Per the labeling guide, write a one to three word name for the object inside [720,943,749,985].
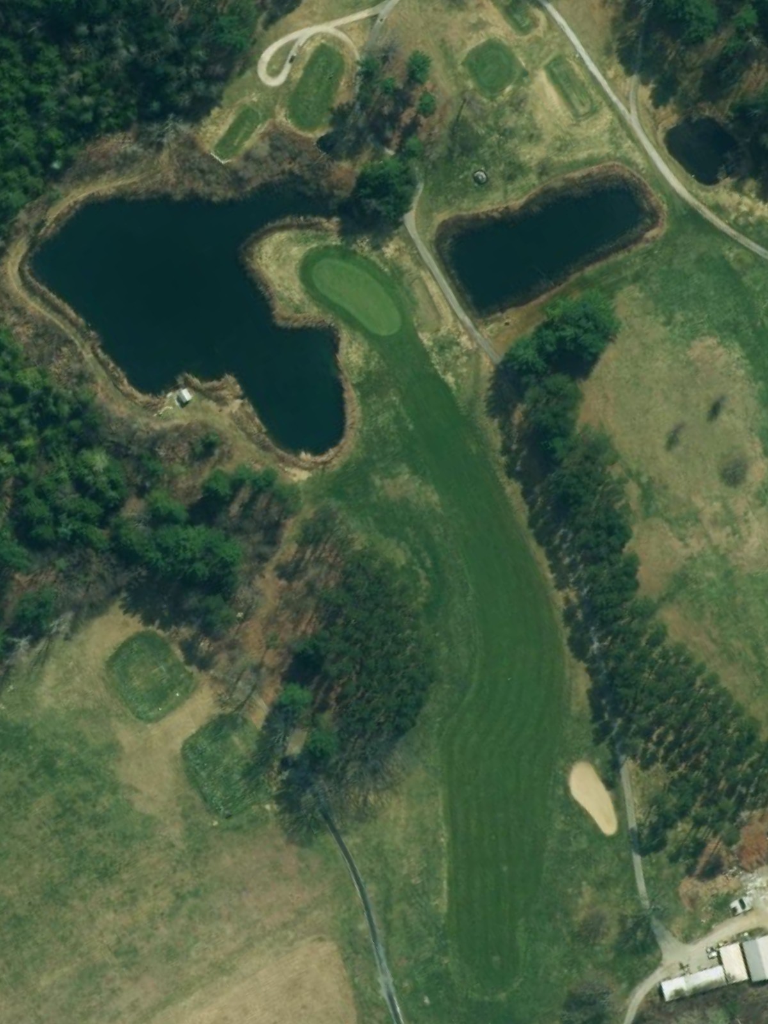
shed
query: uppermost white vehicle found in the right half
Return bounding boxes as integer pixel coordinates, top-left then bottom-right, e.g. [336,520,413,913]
[728,897,753,915]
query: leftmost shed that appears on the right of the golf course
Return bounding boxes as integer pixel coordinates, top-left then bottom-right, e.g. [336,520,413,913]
[661,966,727,1002]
